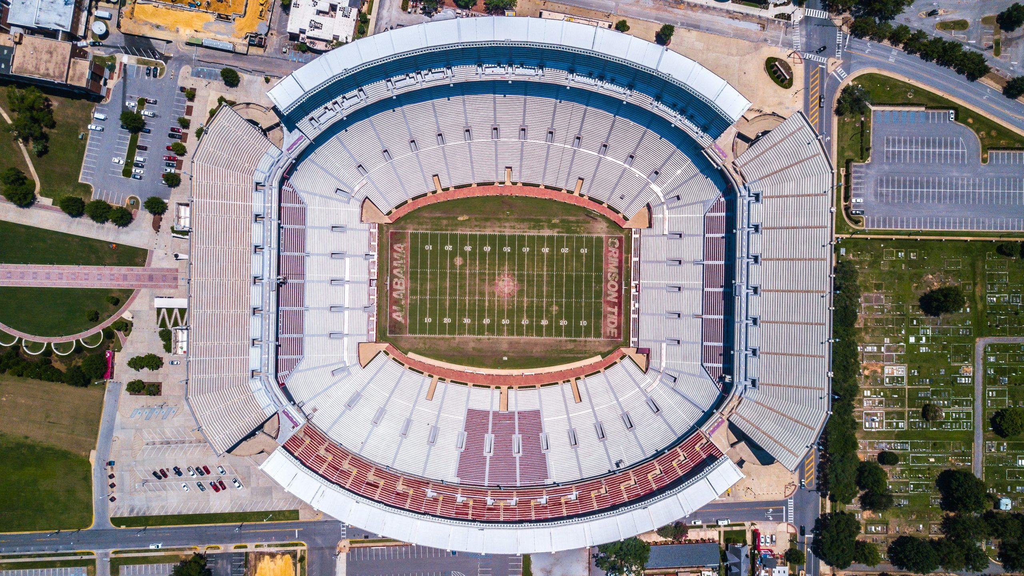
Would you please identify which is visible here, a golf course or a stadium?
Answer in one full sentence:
Looking from above, you can make out a stadium.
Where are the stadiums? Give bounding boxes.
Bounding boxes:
[187,16,837,555]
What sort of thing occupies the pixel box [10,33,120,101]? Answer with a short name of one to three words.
building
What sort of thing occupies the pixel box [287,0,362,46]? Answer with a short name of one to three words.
building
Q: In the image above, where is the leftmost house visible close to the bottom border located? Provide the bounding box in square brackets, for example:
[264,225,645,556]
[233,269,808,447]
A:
[645,539,720,576]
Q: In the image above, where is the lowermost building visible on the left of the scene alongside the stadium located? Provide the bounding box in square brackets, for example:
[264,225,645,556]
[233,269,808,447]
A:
[171,327,188,356]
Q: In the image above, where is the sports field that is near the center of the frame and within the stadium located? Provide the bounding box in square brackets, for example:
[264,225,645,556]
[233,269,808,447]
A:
[376,195,631,374]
